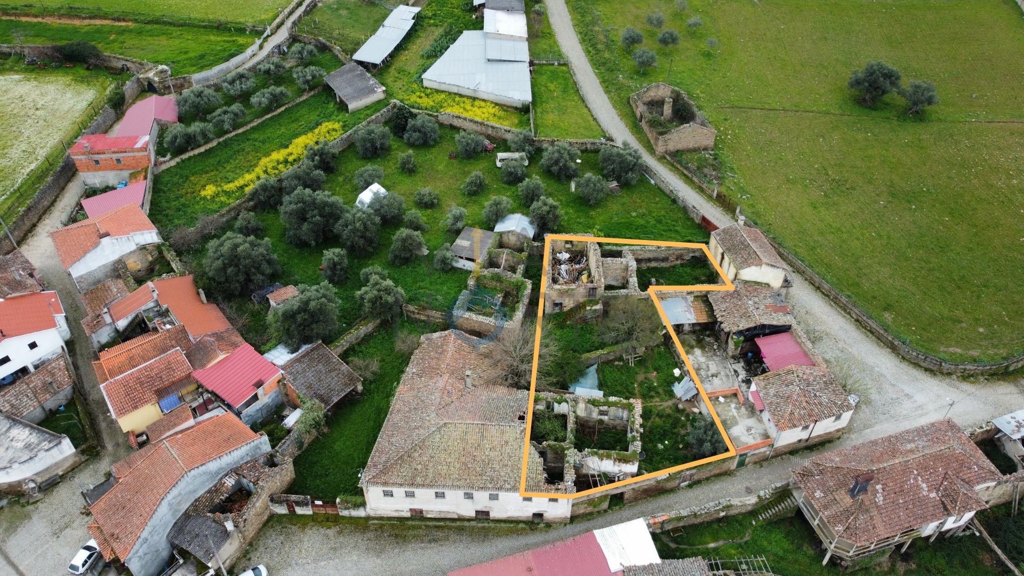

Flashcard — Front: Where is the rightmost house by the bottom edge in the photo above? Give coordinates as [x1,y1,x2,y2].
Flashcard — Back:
[789,418,1004,566]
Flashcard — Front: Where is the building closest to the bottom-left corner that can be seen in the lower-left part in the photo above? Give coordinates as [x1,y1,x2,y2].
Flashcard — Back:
[0,415,79,502]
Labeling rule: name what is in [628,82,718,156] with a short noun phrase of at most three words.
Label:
building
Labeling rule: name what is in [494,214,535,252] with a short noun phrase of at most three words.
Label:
shed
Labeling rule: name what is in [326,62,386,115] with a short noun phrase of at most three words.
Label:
barn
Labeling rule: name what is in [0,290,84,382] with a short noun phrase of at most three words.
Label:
house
